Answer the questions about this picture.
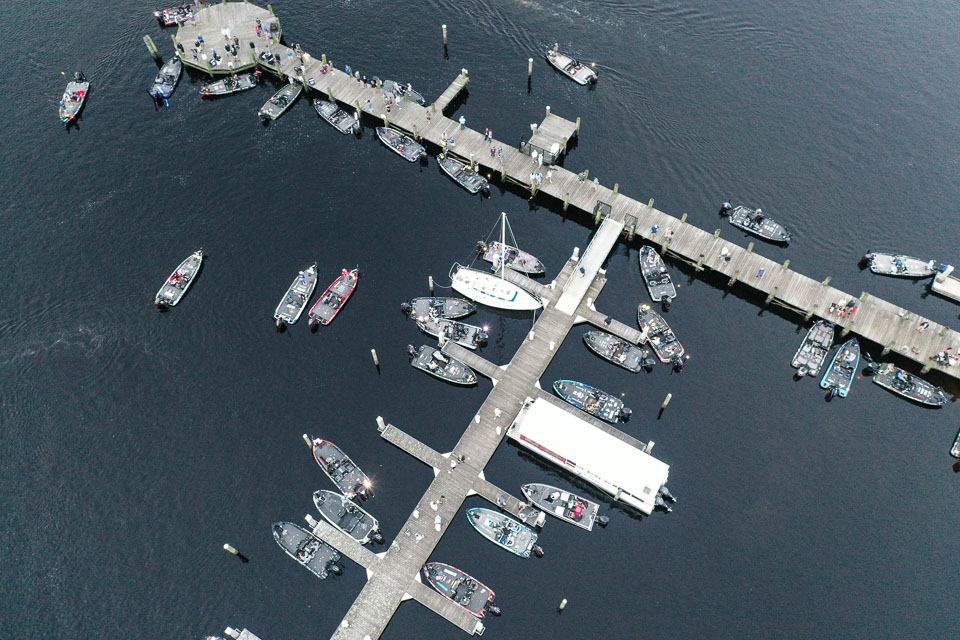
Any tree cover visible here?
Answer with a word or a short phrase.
No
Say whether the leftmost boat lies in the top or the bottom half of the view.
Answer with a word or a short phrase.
top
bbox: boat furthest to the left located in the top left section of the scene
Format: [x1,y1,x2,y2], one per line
[61,72,89,128]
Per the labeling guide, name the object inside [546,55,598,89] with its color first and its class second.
white boat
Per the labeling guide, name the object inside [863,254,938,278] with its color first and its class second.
white boat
